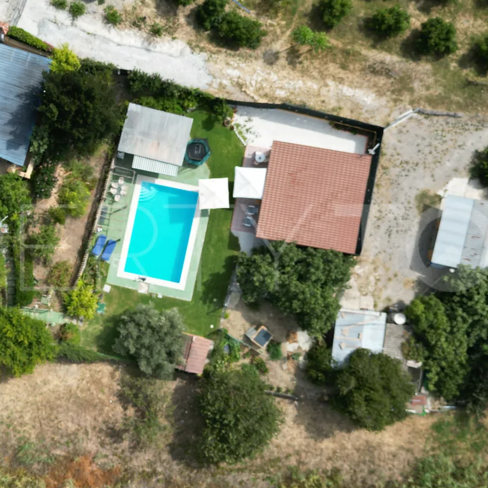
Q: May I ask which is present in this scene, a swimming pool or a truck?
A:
swimming pool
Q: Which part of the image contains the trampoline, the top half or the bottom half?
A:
top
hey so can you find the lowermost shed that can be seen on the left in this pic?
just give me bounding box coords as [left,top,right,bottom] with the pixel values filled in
[173,334,212,375]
